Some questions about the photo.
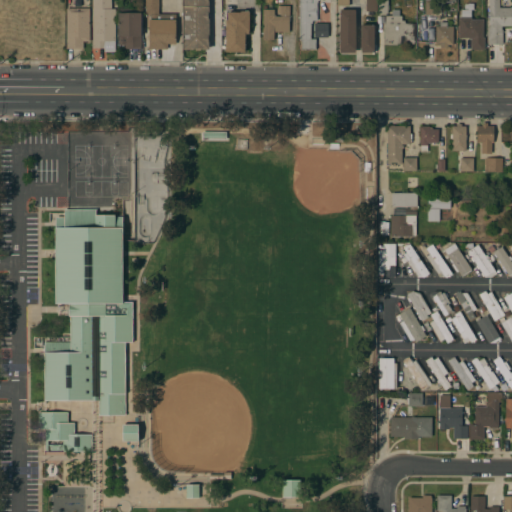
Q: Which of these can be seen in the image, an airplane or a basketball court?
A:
basketball court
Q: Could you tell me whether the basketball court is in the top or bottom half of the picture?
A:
top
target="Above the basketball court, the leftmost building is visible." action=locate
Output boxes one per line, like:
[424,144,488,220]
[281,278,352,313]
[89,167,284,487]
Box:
[67,8,91,50]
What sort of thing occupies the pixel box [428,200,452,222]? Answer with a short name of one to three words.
barn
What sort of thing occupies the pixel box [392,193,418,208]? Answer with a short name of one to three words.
building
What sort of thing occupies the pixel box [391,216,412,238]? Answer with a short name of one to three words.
house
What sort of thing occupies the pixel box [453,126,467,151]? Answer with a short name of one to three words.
house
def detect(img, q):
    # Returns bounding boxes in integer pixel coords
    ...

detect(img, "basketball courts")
[69,132,132,206]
